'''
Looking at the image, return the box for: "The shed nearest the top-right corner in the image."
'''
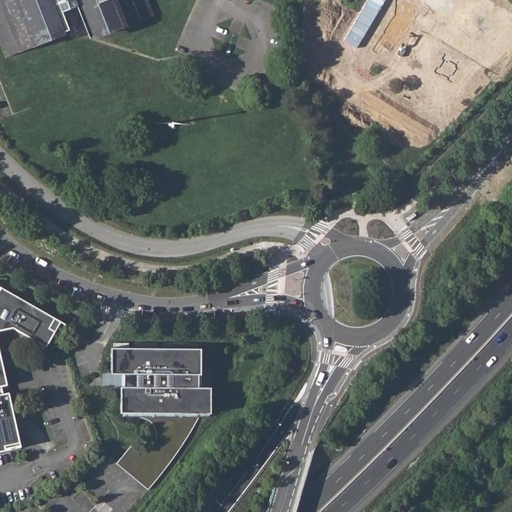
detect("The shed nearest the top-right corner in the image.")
[343,0,386,48]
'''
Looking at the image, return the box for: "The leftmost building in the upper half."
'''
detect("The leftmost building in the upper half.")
[0,0,68,60]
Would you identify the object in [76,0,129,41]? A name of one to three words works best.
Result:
building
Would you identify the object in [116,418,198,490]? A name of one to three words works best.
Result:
building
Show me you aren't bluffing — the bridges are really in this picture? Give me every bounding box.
[268,442,316,512]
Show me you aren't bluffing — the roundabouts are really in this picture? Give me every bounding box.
[304,237,413,348]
